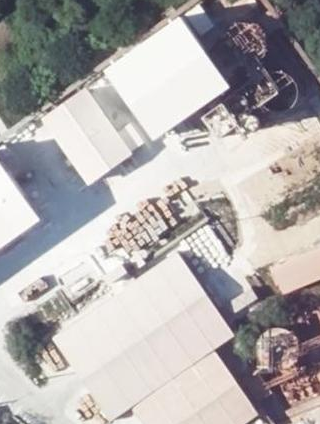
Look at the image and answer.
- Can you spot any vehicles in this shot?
Yes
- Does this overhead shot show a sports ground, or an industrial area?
industrial area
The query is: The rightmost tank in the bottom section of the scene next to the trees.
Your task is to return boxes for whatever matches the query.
[256,326,301,370]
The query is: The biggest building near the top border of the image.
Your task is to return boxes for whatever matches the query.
[104,18,236,142]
